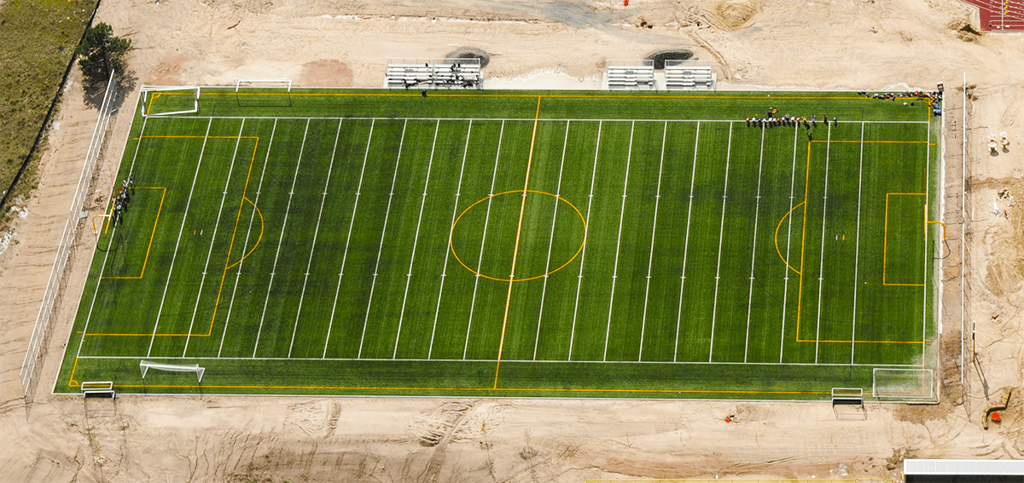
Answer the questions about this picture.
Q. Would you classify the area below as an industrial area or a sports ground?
sports ground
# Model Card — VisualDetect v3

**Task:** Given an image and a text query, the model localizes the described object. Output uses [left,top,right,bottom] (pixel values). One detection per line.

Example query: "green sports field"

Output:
[52,85,944,403]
